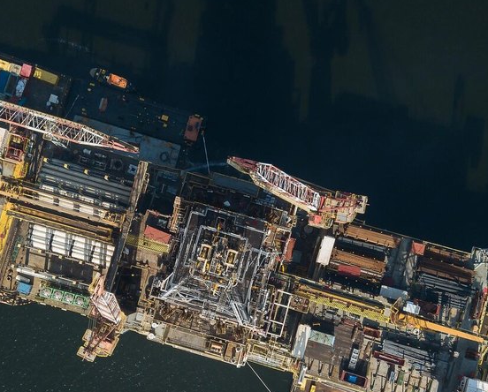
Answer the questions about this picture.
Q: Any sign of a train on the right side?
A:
No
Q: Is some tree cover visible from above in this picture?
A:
No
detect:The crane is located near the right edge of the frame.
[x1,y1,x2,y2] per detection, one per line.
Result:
[388,309,488,346]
